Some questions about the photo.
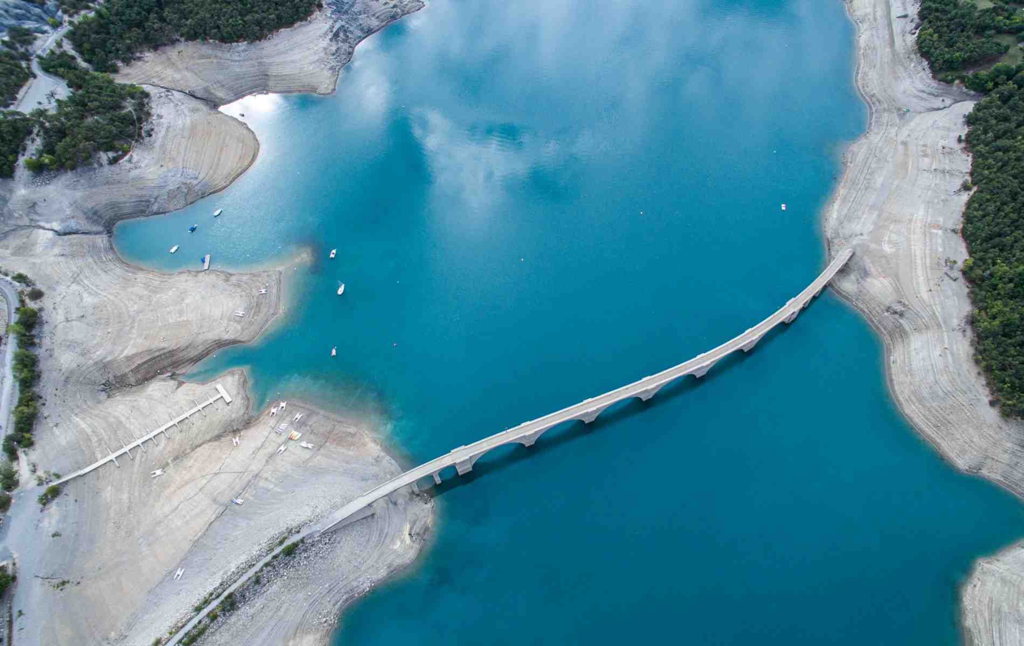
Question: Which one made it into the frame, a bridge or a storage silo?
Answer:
bridge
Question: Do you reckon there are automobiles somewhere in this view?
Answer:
No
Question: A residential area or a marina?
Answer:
marina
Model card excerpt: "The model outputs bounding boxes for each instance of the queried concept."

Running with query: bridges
[317,249,854,533]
